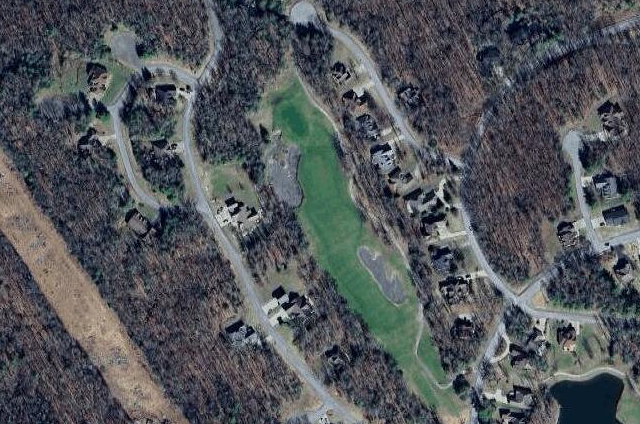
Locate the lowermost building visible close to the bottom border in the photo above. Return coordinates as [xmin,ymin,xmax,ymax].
[496,408,530,424]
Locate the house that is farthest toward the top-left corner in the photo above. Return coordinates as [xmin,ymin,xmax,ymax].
[81,61,113,94]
